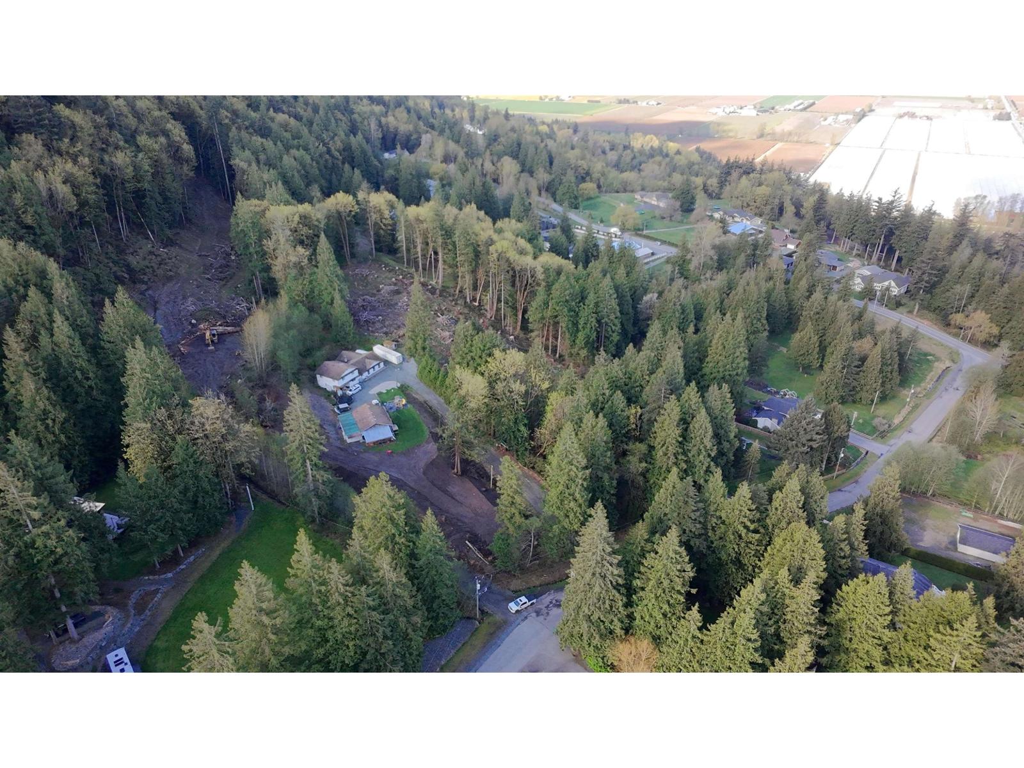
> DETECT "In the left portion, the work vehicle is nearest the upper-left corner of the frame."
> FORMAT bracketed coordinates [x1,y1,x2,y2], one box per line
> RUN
[204,333,220,354]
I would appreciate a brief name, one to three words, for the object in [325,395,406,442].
house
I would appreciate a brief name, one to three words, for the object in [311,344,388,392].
house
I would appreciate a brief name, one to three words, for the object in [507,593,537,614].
truck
